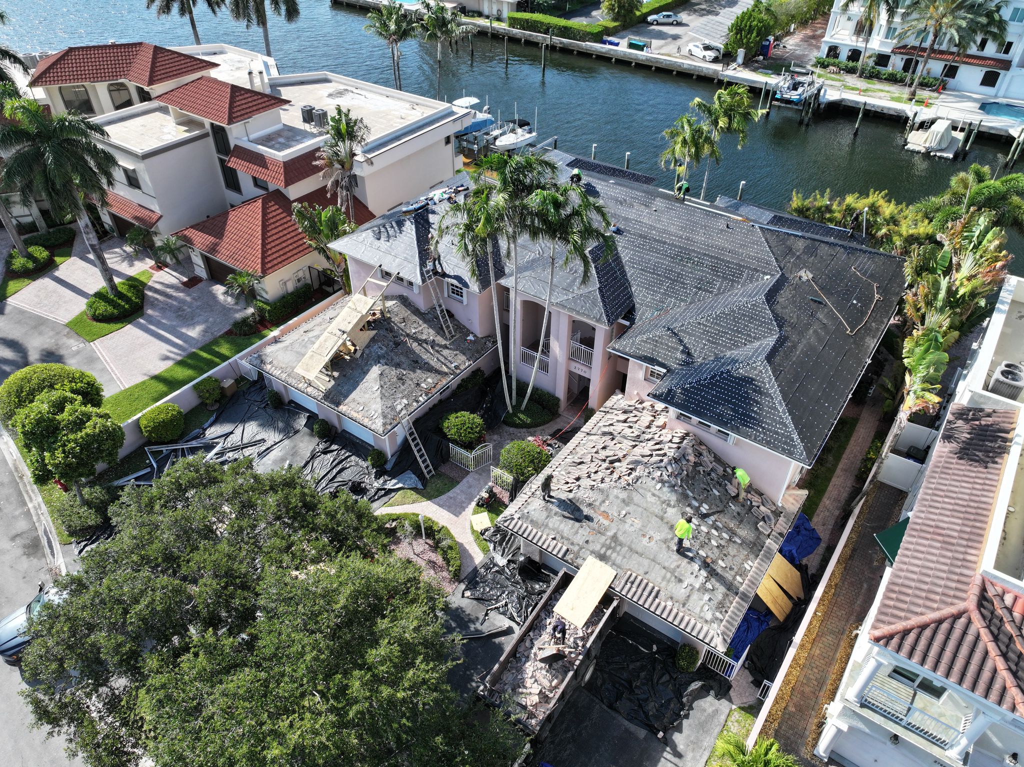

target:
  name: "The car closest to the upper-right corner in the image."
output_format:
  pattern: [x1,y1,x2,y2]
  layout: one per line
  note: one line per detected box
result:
[688,40,722,57]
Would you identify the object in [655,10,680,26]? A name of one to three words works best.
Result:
car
